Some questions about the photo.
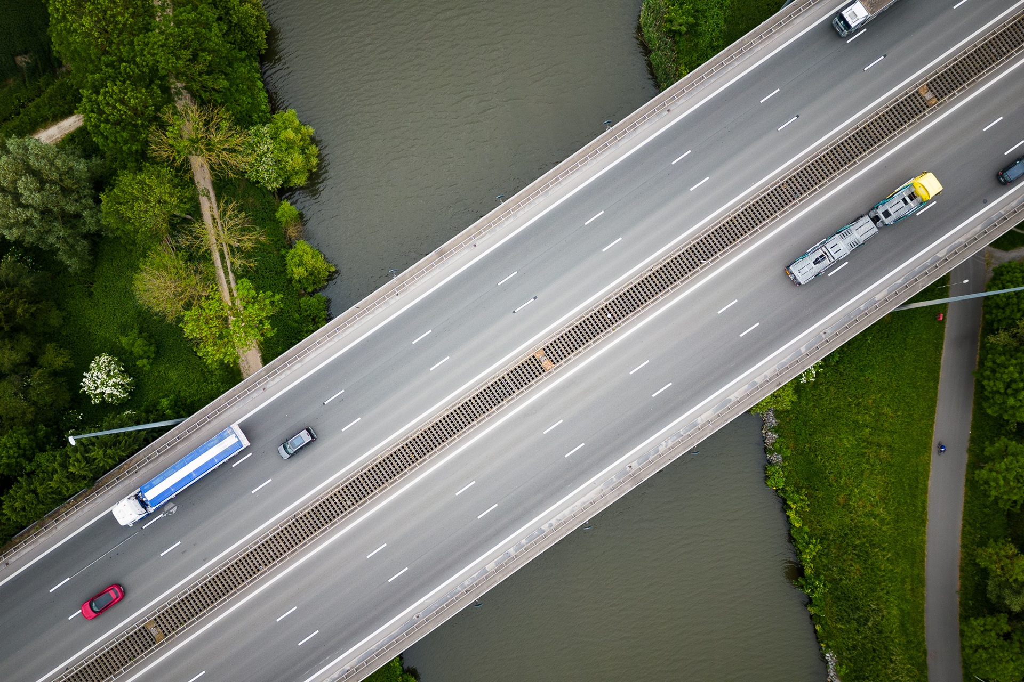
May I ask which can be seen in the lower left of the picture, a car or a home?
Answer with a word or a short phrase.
car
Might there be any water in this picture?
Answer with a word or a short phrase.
Yes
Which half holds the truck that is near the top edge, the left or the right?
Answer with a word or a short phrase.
right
